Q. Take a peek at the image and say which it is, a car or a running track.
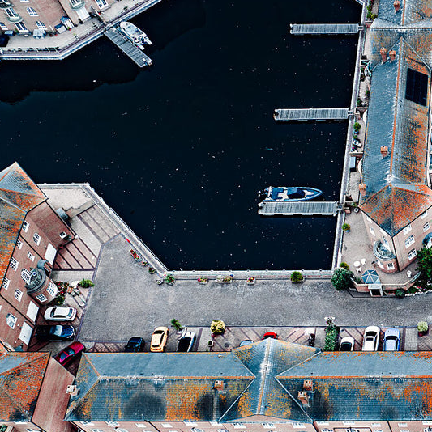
car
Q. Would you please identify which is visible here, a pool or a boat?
boat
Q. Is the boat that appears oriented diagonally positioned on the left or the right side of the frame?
left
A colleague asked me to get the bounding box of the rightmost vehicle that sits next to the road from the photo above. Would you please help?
[383,327,400,351]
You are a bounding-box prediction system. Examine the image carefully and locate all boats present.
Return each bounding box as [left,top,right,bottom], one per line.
[121,24,153,51]
[263,189,322,203]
